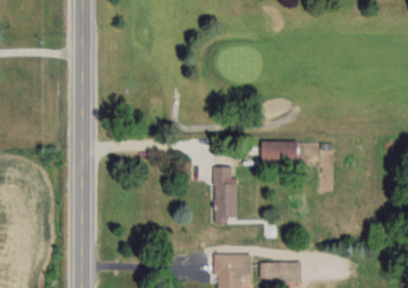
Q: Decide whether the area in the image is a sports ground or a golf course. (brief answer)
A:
golf course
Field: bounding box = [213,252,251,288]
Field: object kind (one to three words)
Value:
house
